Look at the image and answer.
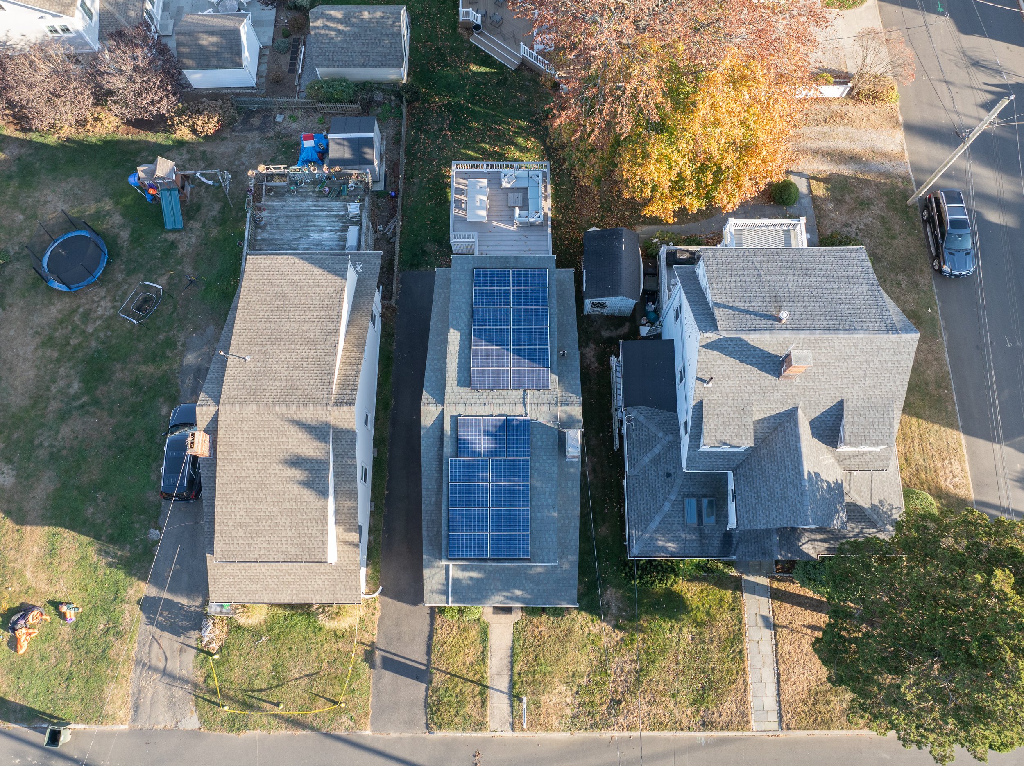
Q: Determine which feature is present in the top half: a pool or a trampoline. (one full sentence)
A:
You can see a trampoline in the top half.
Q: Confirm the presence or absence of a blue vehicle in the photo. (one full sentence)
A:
Yes, a blue vehicle can be made out from above.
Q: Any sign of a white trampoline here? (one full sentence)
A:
No, there appears to be no white trampoline in this shot.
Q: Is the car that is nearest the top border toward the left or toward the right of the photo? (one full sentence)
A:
The car that is nearest the top border is on the right side of the image.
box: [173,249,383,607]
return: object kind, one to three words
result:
house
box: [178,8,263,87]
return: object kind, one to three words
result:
building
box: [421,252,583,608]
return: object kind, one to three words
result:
house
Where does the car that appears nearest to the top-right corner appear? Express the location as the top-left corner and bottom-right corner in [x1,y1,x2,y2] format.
[920,190,978,282]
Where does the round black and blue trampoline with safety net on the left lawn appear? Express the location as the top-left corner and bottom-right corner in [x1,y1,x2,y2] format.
[14,207,120,299]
